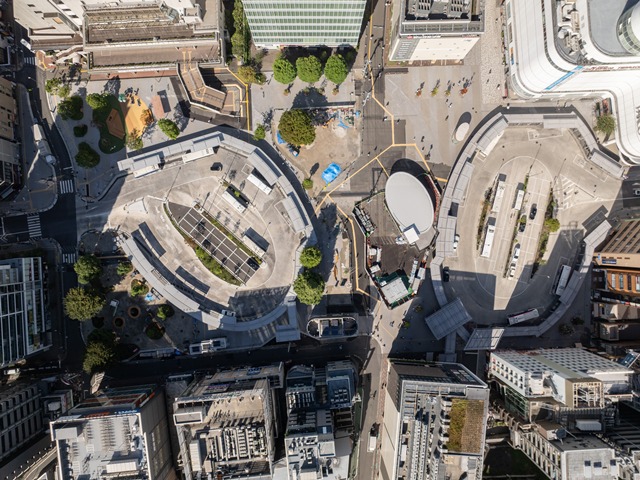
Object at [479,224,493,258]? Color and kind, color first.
white vehicle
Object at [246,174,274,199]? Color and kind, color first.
white bus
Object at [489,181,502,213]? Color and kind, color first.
white vehicle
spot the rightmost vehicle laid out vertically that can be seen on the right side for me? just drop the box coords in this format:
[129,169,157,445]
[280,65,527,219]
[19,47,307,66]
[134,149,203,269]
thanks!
[552,263,569,295]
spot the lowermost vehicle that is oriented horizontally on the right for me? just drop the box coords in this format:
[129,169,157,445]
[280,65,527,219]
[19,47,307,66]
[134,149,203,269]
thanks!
[505,308,538,323]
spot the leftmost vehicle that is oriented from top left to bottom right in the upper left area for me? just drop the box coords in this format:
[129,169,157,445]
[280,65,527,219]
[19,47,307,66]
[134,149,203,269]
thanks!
[17,36,34,53]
